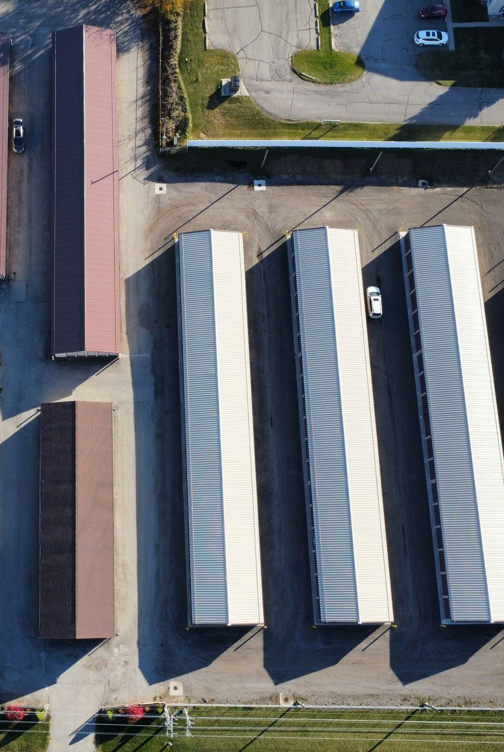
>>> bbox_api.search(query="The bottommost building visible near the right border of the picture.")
[397,223,504,623]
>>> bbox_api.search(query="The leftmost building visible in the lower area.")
[37,400,117,639]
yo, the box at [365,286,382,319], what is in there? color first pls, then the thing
white car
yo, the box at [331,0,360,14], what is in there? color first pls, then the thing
blue car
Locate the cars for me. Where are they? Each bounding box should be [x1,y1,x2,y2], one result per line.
[11,119,25,155]
[413,31,448,47]
[419,3,448,20]
[365,286,382,319]
[331,0,360,14]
